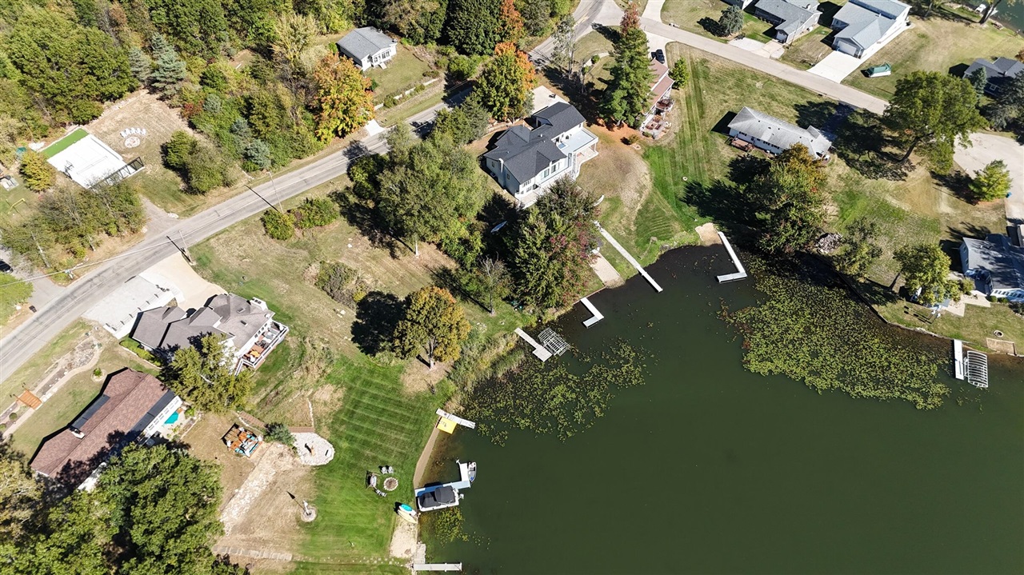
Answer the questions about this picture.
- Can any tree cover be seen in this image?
Yes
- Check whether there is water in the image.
Yes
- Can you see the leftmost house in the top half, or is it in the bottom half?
bottom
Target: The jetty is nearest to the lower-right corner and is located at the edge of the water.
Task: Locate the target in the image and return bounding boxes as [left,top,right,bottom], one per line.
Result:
[951,339,964,382]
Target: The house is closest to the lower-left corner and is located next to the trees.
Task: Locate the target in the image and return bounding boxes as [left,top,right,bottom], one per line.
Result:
[30,366,172,483]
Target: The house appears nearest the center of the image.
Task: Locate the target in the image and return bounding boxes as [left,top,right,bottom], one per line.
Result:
[484,102,599,205]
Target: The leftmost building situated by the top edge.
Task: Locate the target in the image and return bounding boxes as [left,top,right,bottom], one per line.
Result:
[336,22,396,72]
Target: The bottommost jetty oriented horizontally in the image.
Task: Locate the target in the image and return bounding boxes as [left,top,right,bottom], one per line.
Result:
[413,562,462,574]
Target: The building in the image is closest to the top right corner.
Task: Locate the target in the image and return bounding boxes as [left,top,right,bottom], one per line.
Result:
[964,54,1024,101]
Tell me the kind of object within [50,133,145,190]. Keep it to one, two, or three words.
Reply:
sports court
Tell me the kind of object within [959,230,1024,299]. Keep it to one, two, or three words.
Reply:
house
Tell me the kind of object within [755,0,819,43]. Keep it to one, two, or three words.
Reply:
house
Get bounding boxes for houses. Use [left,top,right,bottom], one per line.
[833,0,915,57]
[959,230,1024,299]
[718,0,751,16]
[133,293,291,376]
[484,102,599,205]
[30,366,172,483]
[755,0,819,43]
[728,105,830,163]
[639,60,675,133]
[336,22,396,72]
[964,54,1024,101]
